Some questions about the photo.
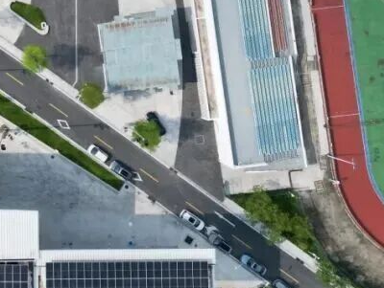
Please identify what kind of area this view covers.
sports ground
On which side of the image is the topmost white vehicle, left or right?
left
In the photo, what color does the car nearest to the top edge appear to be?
black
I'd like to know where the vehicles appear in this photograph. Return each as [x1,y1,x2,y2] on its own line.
[178,208,206,231]
[85,142,109,163]
[241,255,269,278]
[146,108,170,134]
[208,232,238,258]
[110,161,138,184]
